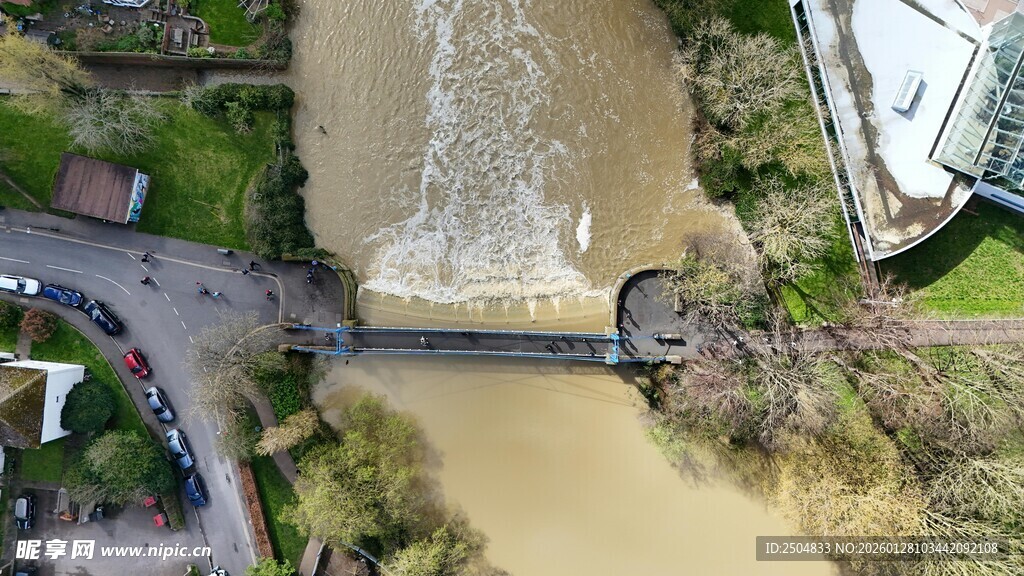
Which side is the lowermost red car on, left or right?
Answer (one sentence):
The lowermost red car sits on the left side.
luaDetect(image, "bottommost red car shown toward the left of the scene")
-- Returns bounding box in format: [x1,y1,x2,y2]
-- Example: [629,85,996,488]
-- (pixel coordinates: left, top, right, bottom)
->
[120,344,152,383]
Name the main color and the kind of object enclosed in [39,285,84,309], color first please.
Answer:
blue car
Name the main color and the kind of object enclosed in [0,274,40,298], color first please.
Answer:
white car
